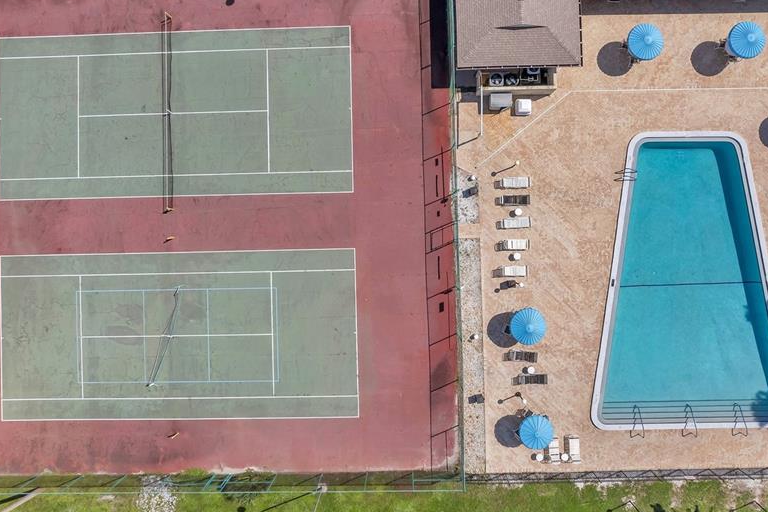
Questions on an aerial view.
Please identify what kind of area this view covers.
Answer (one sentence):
This looks like a sports ground.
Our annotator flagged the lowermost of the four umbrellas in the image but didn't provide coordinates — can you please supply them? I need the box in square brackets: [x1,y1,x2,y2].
[519,416,553,450]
